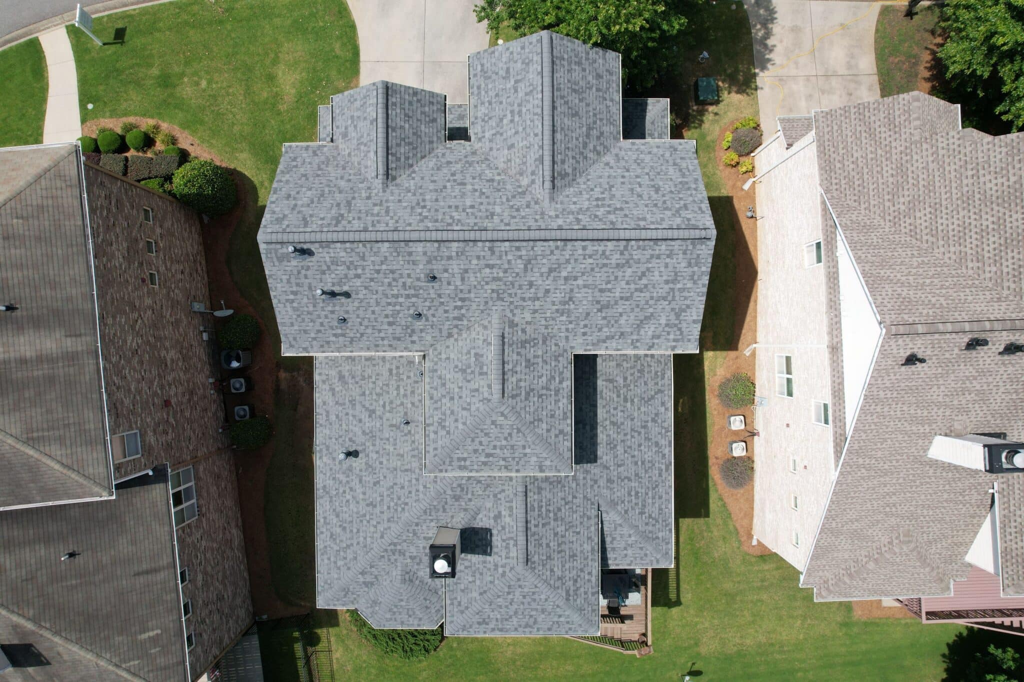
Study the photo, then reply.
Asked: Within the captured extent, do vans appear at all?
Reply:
No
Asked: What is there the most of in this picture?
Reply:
buildings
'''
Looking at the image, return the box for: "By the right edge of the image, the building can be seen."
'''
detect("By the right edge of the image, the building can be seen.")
[743,91,1024,603]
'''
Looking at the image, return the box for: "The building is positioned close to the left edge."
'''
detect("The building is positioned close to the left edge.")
[0,142,255,682]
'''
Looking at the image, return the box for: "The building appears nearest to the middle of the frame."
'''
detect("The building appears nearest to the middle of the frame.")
[258,31,716,635]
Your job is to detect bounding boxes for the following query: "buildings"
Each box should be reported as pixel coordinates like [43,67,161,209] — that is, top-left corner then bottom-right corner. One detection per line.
[0,142,255,682]
[743,91,1024,603]
[258,31,716,635]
